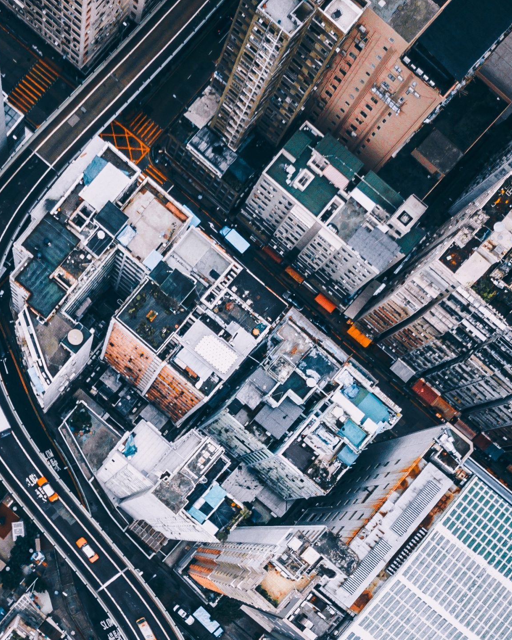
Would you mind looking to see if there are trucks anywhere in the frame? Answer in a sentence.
Yes, you can see a truck in this photo.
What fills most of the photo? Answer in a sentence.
The scene is dominated by buildings.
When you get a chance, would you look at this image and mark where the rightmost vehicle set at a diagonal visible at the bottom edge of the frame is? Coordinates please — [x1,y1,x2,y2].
[187,602,224,640]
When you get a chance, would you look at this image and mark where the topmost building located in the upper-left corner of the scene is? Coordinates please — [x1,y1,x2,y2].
[0,0,148,71]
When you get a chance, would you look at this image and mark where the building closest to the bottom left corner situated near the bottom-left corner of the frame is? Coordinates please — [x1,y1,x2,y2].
[0,592,60,640]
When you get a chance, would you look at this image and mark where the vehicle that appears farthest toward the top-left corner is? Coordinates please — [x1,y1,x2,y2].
[190,209,214,233]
